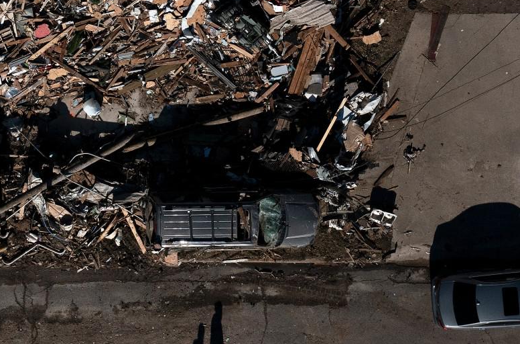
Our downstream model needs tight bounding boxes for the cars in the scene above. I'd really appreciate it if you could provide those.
[155,185,318,251]
[427,260,520,326]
